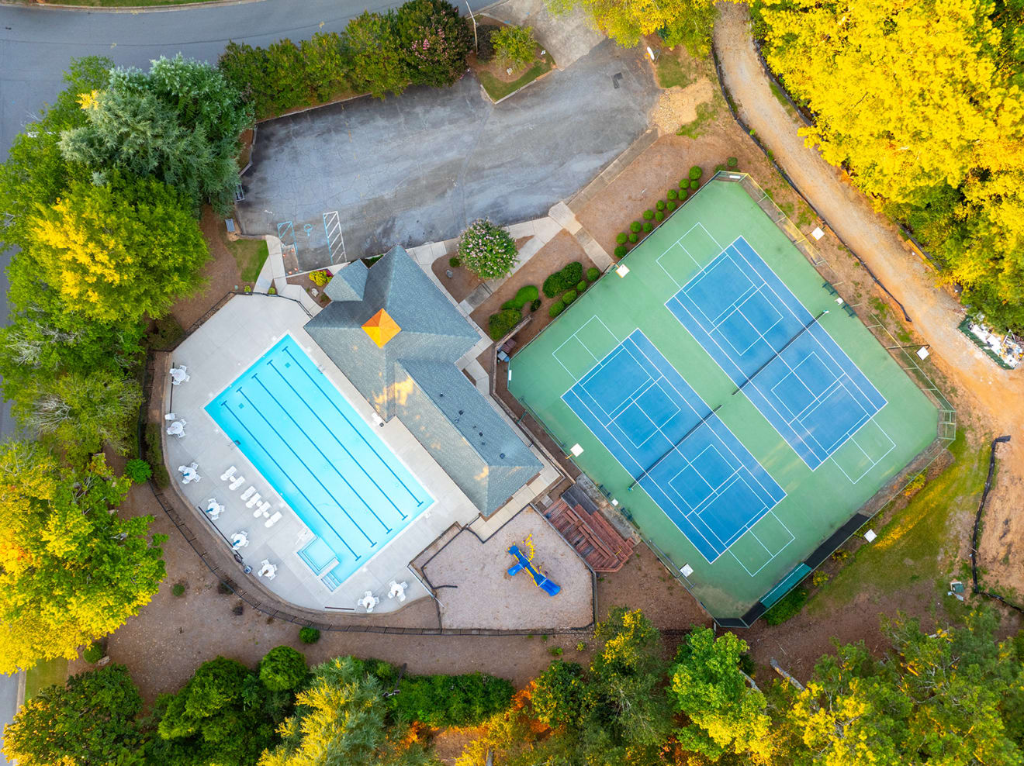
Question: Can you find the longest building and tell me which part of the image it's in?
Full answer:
Look in the center portion of the view to spot the longest building.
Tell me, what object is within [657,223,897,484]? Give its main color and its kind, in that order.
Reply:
blue tennis court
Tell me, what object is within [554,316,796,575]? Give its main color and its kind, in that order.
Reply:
blue tennis court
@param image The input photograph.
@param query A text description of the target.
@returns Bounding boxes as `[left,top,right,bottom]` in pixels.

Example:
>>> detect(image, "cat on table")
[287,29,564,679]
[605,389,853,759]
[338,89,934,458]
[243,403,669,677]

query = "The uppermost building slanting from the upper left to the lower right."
[305,245,542,518]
